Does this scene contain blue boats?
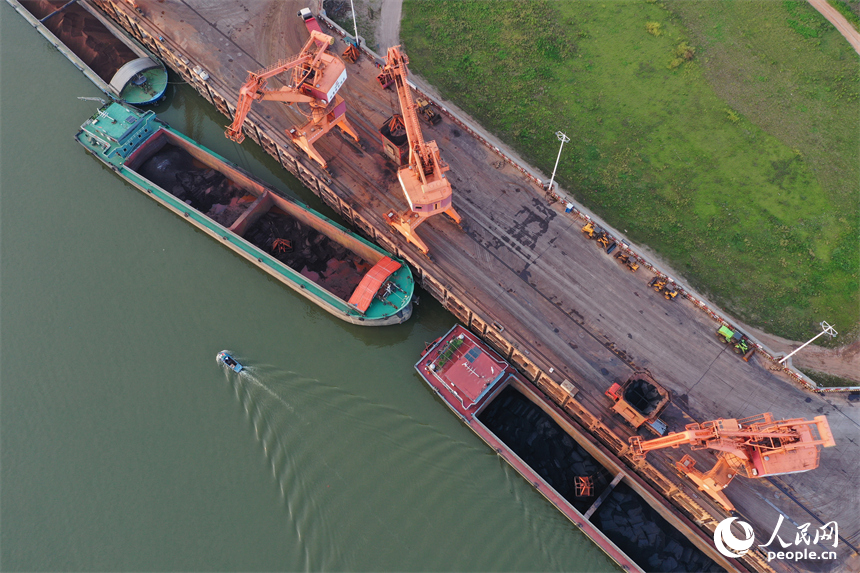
Yes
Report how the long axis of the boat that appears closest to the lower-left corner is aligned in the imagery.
at an angle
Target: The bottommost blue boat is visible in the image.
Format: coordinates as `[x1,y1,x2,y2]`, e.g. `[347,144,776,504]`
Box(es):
[220,350,245,375]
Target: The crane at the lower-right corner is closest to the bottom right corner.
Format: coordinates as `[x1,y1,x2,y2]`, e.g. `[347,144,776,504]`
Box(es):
[585,418,842,523]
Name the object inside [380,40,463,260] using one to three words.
crane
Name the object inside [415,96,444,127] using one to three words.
work vehicle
